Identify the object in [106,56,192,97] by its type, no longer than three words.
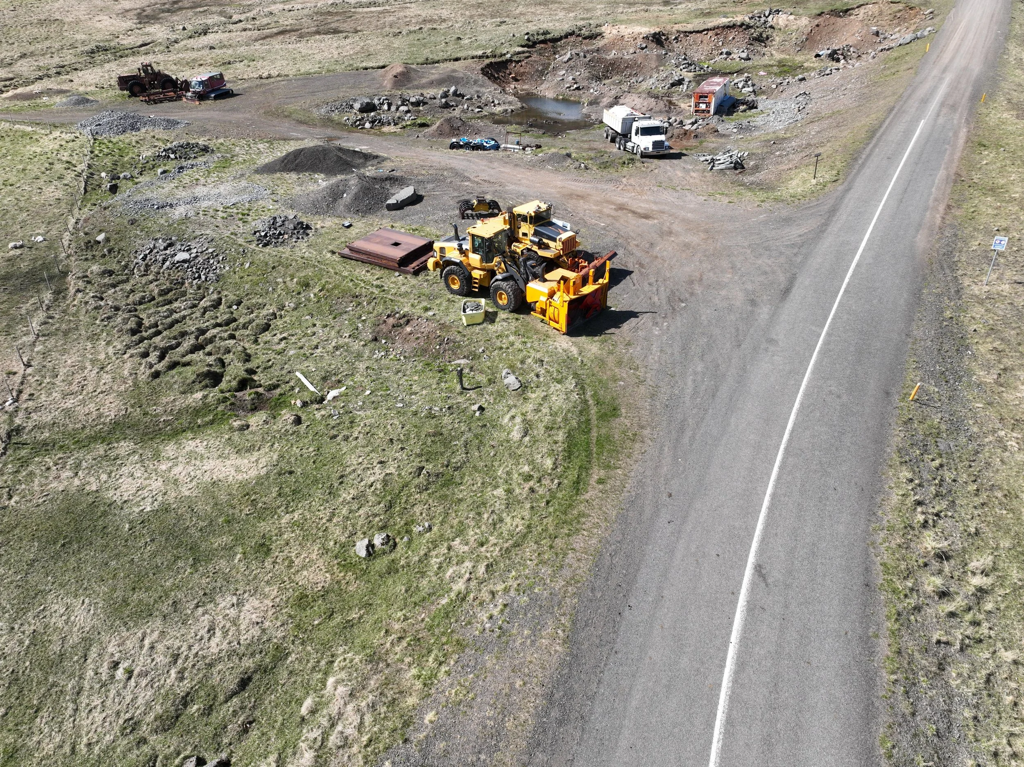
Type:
work vehicle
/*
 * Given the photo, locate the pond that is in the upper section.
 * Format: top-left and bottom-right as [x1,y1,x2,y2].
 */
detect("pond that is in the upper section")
[492,90,592,139]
